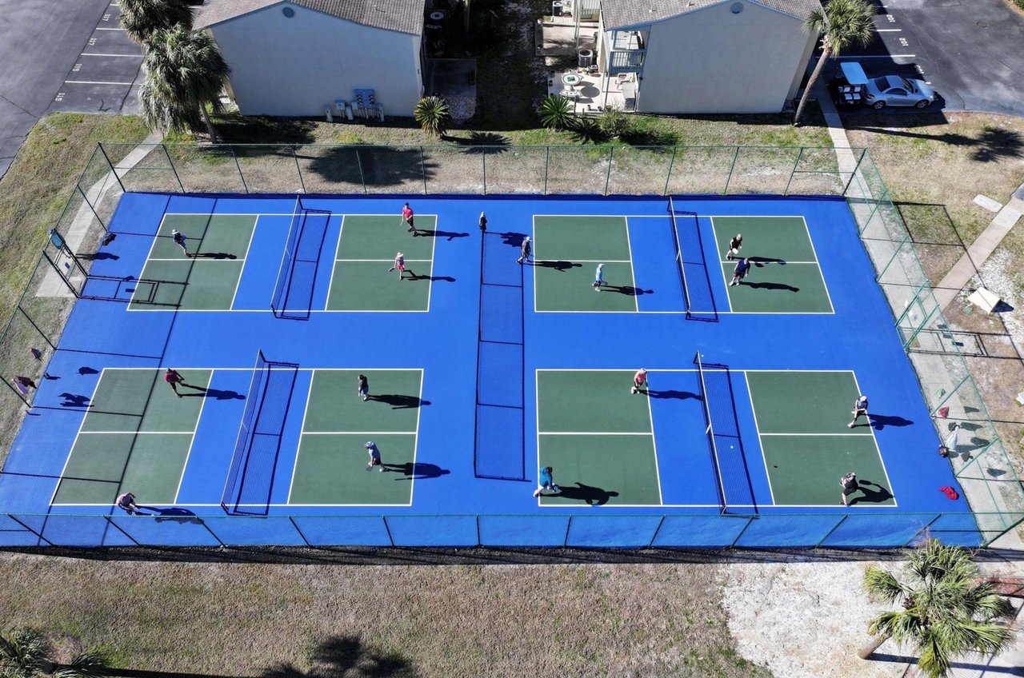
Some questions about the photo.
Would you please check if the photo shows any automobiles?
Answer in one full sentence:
Yes, there's an automobile down there.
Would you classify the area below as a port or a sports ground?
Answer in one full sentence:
This image shows a sports ground.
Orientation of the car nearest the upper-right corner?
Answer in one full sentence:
In this picture, the car nearest the upper-right corner lies from side to side.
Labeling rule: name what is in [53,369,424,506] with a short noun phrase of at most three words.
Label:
sports court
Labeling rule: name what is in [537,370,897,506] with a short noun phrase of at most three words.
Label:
sports court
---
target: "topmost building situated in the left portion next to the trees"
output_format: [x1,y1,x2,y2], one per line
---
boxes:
[192,0,434,114]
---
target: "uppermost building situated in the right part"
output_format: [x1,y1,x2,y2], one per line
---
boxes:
[580,0,824,114]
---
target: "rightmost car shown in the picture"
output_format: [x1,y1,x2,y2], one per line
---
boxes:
[860,72,938,107]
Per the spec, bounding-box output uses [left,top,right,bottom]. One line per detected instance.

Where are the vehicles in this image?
[828,62,871,112]
[860,72,938,107]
